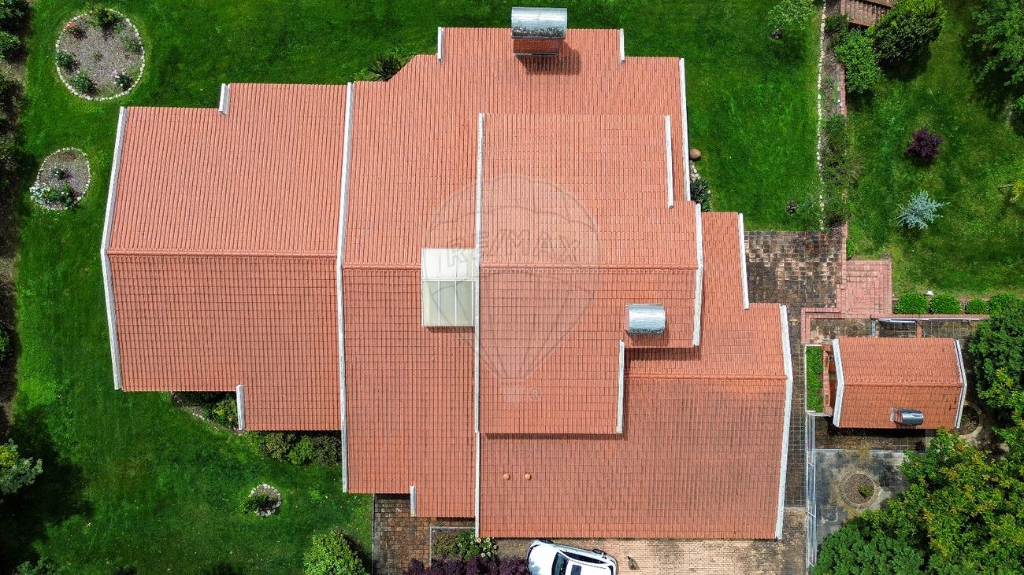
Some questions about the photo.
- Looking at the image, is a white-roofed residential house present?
No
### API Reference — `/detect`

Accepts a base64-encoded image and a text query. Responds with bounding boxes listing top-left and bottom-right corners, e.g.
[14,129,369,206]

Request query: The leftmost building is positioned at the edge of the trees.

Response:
[100,26,791,543]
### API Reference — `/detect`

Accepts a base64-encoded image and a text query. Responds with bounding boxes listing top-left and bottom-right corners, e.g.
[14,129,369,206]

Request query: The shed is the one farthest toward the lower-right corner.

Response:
[828,337,964,430]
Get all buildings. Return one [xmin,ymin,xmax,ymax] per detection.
[828,337,964,430]
[100,26,791,543]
